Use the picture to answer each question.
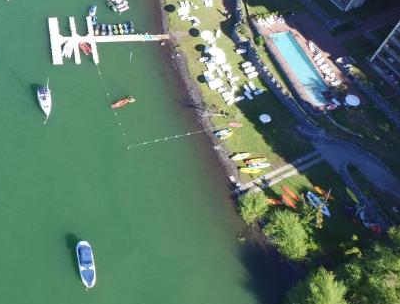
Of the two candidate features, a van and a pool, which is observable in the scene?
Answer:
pool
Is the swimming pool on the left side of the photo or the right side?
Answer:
right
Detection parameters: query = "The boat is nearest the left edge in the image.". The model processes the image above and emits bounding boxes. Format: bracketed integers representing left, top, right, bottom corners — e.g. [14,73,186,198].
[38,78,52,121]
